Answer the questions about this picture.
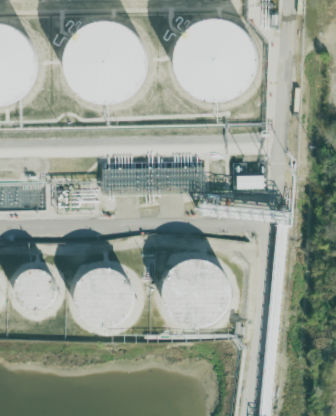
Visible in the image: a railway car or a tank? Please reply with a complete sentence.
Visible in the photo is a tank.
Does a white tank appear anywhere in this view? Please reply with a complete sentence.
Yes, there is a white tank in the image.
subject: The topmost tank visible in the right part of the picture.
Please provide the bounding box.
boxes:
[168,14,265,110]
